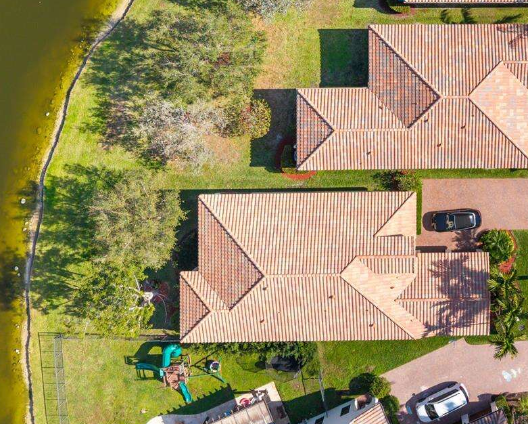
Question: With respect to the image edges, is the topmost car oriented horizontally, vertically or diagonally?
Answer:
horizontally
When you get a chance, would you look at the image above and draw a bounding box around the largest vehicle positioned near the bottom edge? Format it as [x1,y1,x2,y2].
[415,379,469,419]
